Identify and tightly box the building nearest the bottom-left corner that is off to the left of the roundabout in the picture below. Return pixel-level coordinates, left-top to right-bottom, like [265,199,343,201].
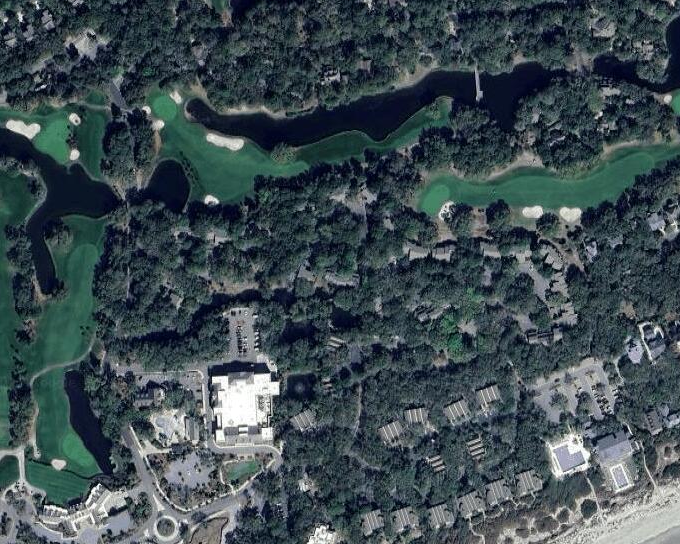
[39,483,114,534]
